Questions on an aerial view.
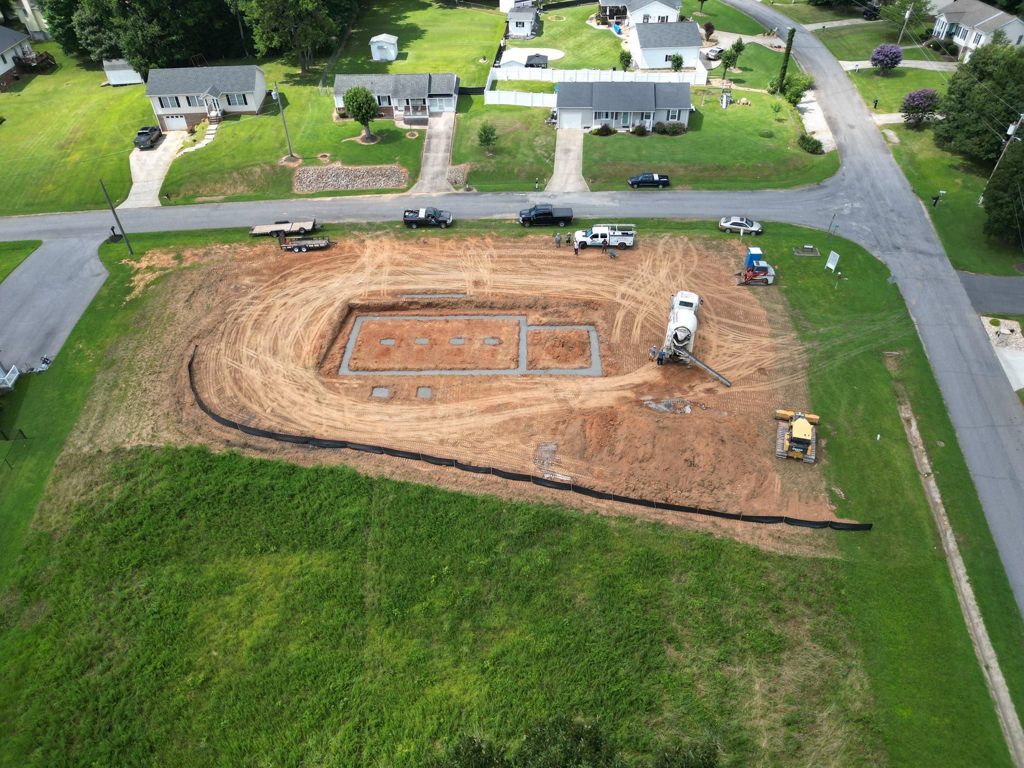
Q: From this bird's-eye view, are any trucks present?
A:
Yes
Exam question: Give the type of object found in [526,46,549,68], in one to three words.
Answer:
gazebo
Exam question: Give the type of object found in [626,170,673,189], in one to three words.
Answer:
vehicle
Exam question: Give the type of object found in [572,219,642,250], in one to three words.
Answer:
truck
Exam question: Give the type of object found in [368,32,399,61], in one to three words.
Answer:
shed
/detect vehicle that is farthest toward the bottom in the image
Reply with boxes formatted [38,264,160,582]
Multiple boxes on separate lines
[769,408,820,462]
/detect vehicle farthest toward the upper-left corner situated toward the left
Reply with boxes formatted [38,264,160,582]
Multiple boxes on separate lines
[130,124,164,149]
